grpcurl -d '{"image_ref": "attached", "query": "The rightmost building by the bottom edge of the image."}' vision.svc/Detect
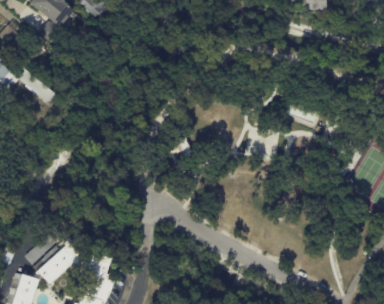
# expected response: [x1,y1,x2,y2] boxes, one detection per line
[70,257,115,304]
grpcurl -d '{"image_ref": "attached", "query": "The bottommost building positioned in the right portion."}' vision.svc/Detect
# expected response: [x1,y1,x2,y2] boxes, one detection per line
[287,103,318,128]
